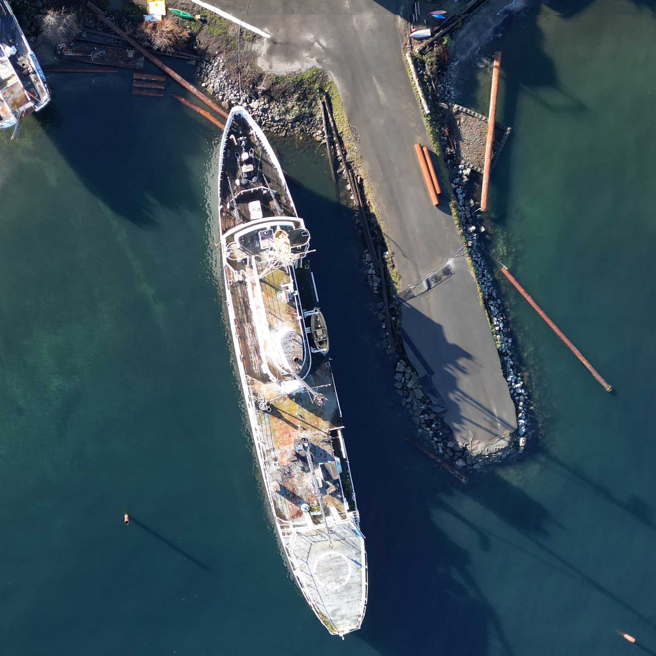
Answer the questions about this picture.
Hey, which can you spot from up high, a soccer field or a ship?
ship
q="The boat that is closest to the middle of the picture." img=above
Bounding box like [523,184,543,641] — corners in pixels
[311,308,329,355]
